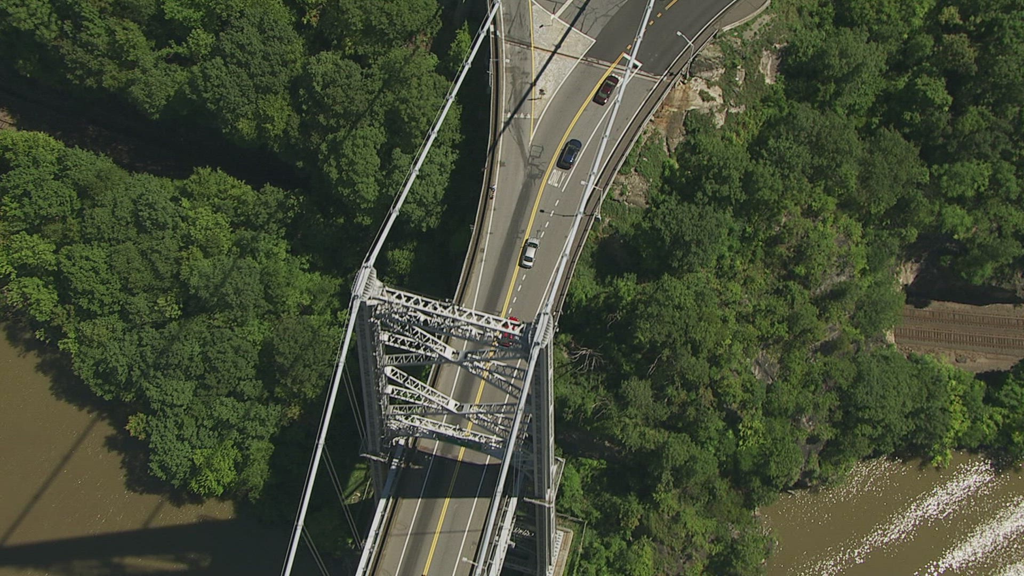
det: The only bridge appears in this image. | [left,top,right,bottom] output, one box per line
[281,0,682,576]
